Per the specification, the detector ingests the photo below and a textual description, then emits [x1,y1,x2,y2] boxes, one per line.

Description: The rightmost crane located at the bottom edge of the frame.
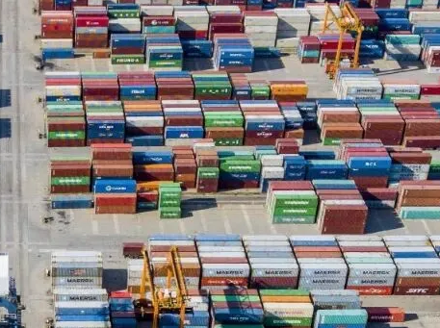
[137,243,196,328]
